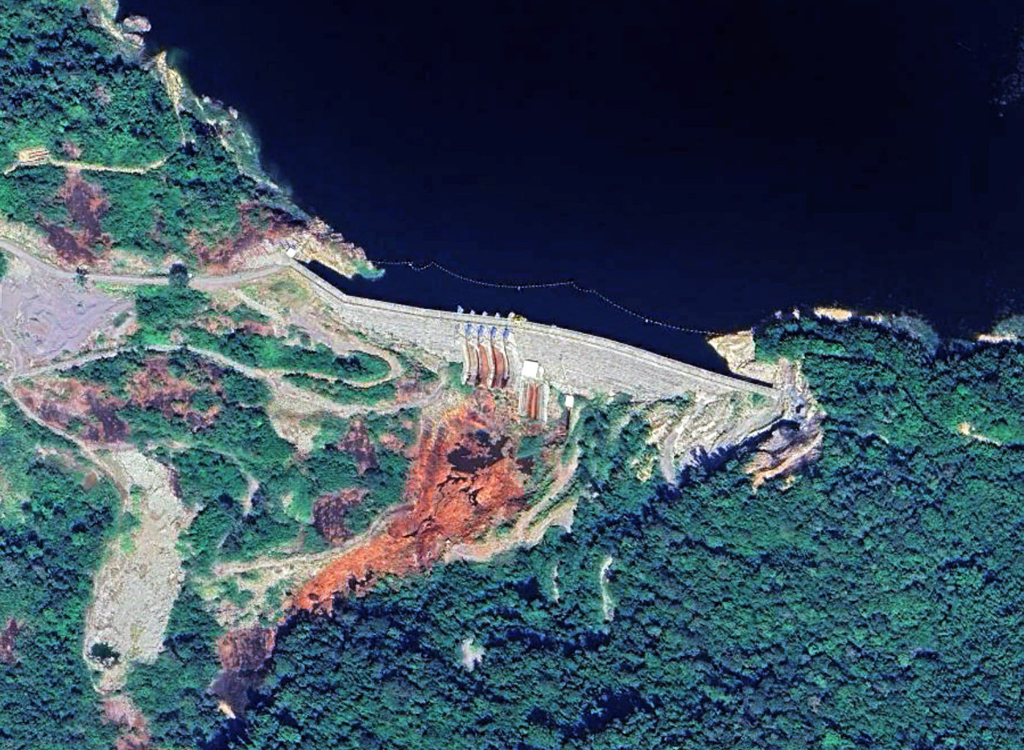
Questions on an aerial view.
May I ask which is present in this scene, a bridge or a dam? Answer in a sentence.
Visible in the photo is a dam.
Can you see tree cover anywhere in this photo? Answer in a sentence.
Yes, some tree cover is visible.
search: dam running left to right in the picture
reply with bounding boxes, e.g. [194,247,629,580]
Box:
[288,257,777,401]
